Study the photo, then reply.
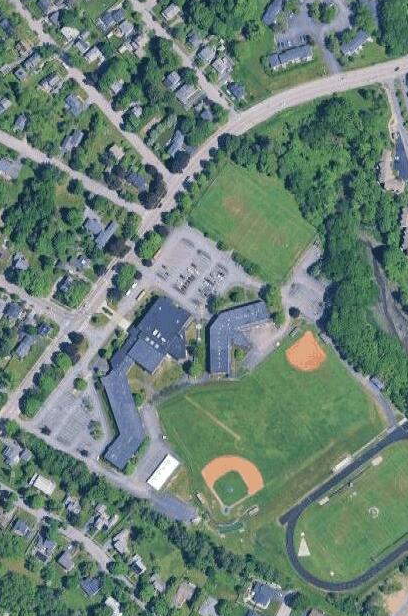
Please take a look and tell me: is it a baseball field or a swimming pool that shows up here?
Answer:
baseball field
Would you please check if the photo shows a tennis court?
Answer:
No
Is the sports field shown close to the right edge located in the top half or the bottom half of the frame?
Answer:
bottom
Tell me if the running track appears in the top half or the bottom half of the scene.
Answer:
bottom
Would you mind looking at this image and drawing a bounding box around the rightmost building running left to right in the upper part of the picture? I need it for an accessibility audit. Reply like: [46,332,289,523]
[266,44,313,68]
